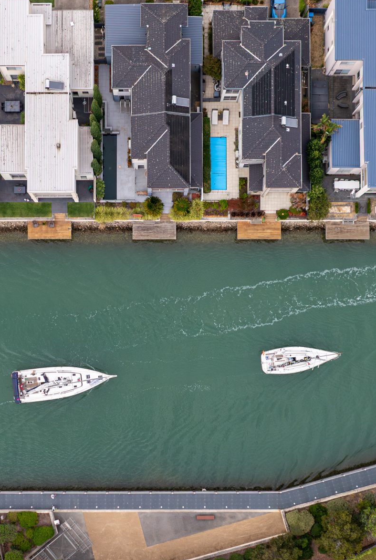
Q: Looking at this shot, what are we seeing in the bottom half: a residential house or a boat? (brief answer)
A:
boat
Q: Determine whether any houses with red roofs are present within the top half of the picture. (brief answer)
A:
No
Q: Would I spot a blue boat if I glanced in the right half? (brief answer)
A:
No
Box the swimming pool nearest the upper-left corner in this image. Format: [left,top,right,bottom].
[100,131,119,202]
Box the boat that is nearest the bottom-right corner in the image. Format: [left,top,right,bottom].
[259,344,341,374]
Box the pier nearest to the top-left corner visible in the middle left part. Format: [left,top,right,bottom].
[27,213,72,240]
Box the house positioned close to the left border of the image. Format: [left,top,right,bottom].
[0,0,93,204]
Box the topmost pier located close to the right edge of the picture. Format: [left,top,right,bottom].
[325,215,370,240]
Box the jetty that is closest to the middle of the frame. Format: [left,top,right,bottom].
[132,214,177,240]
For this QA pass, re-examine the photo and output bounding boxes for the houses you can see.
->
[327,0,376,198]
[105,2,203,198]
[0,0,93,204]
[212,6,312,198]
